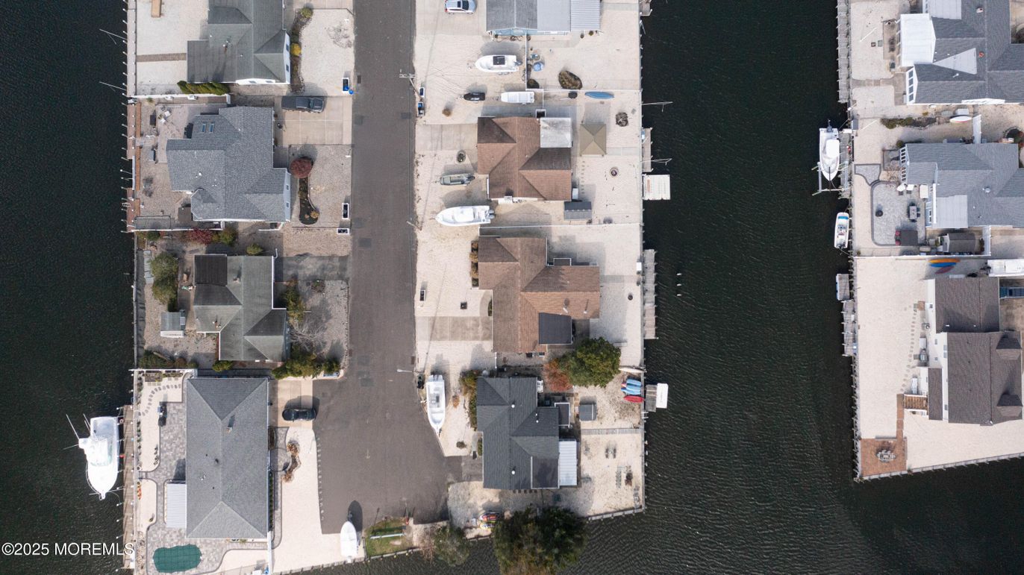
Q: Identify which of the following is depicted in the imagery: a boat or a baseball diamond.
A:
boat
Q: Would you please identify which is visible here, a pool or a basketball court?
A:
pool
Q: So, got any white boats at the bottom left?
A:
Yes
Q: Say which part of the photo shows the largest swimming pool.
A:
bottom left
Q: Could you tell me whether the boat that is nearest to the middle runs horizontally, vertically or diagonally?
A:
horizontally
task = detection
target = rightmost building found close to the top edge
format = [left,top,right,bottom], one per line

[889,0,1024,107]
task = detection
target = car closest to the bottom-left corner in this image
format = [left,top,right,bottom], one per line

[284,406,317,422]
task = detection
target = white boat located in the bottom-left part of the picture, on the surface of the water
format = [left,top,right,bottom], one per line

[66,415,121,503]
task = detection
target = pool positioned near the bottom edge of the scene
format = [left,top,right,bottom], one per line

[151,544,203,574]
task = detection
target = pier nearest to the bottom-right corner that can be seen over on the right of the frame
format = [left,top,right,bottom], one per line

[839,300,854,356]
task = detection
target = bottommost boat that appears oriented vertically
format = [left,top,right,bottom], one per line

[341,521,358,564]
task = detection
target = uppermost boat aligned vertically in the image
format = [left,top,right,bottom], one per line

[818,121,840,193]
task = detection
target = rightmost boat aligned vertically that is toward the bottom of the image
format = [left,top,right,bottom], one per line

[426,376,446,439]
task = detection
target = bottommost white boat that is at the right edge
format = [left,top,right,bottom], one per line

[982,257,1024,277]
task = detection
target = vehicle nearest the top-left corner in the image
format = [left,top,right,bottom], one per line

[281,95,326,114]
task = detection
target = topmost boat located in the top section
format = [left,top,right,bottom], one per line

[474,56,524,75]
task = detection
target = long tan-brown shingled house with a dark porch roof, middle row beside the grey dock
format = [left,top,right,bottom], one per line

[478,236,601,353]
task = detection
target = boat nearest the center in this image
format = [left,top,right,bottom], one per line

[435,205,495,227]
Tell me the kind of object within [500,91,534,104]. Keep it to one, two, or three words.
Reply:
boat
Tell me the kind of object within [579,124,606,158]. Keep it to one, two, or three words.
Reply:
gazebo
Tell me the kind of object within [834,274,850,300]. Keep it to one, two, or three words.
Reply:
pier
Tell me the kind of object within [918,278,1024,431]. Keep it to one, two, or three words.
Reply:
house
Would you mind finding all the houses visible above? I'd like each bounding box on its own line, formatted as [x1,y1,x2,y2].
[896,141,1024,229]
[478,236,601,353]
[918,278,1024,431]
[188,254,291,362]
[165,377,272,539]
[187,0,291,85]
[476,377,577,493]
[166,106,292,222]
[477,114,572,203]
[889,0,1024,107]
[487,0,600,38]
